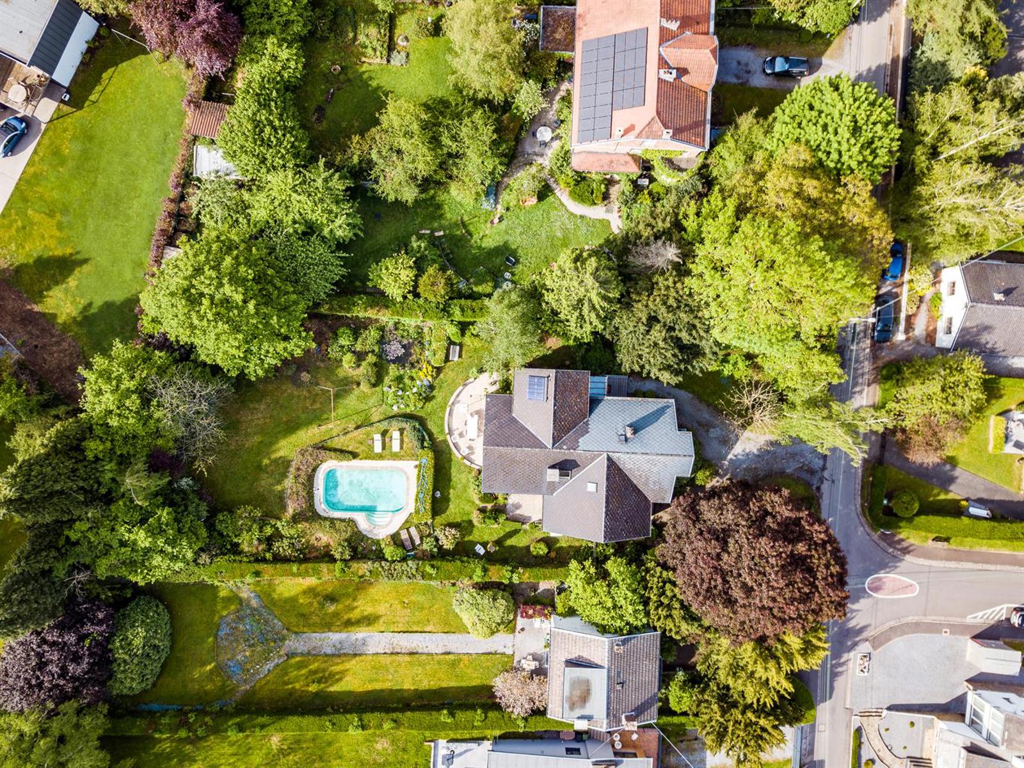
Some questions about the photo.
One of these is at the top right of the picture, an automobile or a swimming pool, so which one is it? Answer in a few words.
automobile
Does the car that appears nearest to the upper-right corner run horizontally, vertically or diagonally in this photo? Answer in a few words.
horizontally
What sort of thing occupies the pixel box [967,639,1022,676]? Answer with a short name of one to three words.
building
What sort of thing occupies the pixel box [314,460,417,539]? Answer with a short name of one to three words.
swimming pool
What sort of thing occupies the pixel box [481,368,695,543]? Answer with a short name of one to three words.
house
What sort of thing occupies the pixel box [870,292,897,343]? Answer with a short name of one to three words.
car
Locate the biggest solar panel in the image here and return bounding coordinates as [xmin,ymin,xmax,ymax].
[526,373,549,403]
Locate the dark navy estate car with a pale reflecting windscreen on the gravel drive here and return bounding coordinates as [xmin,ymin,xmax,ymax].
[761,54,810,79]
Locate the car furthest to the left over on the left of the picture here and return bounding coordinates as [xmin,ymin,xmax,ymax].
[0,114,33,158]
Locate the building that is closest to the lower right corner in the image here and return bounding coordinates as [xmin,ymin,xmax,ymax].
[942,684,1024,755]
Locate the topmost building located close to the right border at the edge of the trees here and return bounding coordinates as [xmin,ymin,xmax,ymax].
[938,262,1024,355]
